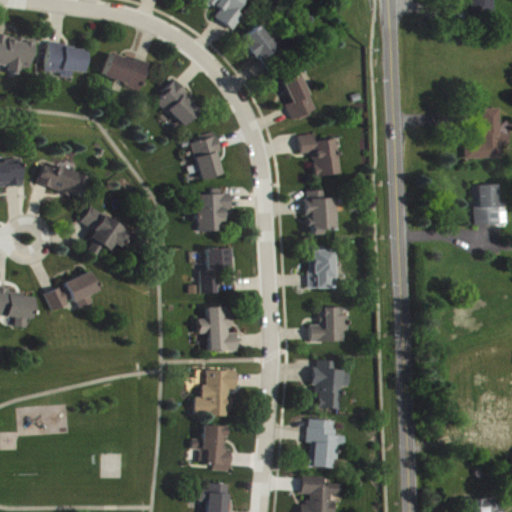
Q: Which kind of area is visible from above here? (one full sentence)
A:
This image shows a residential area.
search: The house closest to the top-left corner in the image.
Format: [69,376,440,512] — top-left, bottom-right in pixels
[0,34,40,74]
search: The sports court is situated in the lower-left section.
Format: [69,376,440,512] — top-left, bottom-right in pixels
[100,452,122,478]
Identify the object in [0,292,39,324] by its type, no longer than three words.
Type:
house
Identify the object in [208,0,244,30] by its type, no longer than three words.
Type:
house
